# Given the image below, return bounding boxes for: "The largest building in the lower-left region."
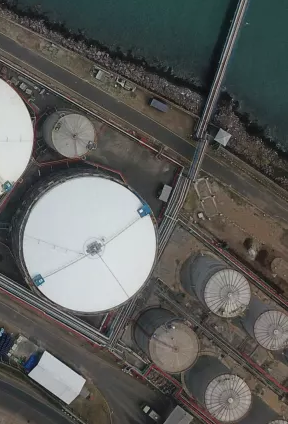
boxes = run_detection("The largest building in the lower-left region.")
[26,344,86,404]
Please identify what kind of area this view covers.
industrial area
